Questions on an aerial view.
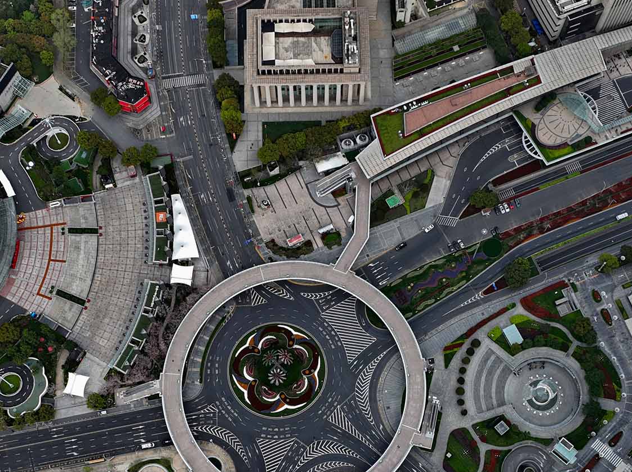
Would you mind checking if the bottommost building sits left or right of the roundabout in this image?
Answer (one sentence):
Looking at the photo, the bottommost building lies to the right of the roundabout.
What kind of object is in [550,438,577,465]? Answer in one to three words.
building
